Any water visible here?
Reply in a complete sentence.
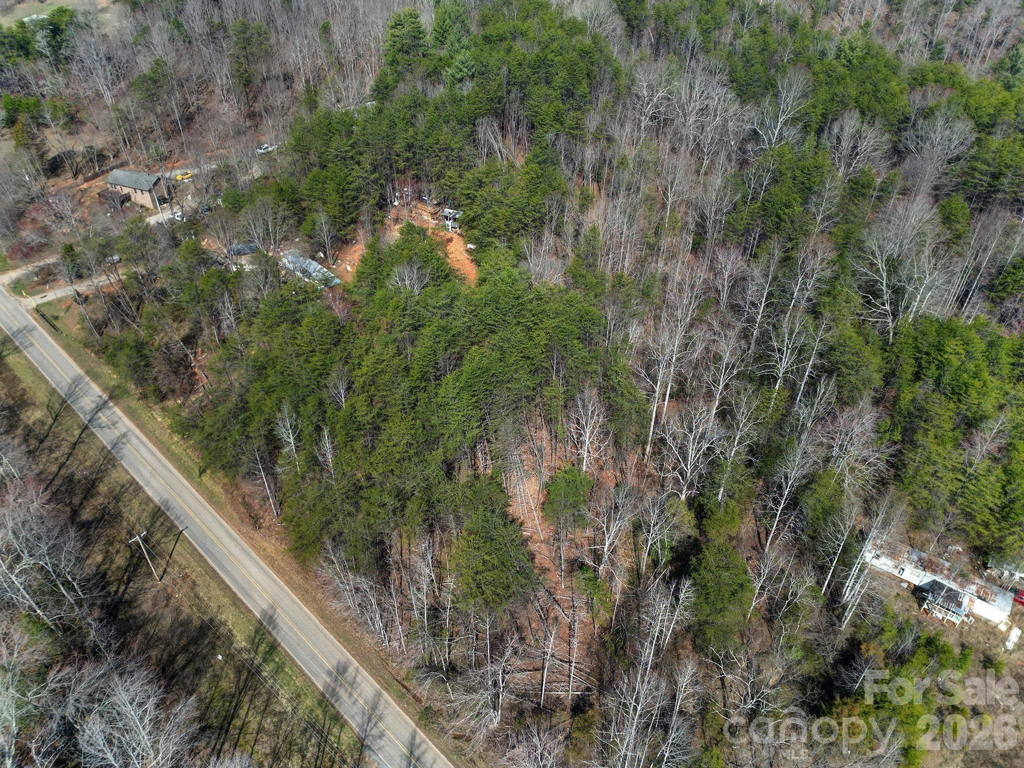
No, there's no water in this view.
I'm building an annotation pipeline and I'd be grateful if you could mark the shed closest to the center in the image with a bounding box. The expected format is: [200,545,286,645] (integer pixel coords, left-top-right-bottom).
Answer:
[442,211,470,231]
